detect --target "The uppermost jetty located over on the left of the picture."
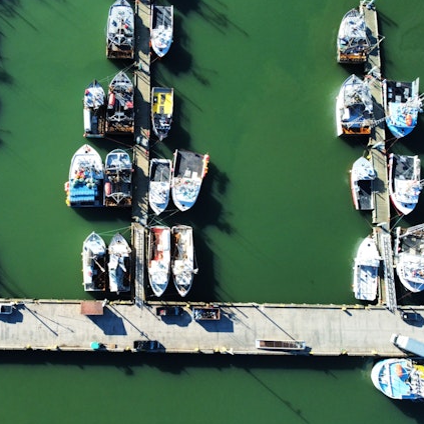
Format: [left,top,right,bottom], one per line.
[135,0,151,61]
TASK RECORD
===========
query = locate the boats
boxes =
[332,71,395,138]
[106,68,136,138]
[171,225,198,300]
[348,156,386,211]
[149,3,176,57]
[379,78,424,138]
[83,78,106,139]
[369,356,424,403]
[108,233,134,295]
[149,87,174,141]
[147,158,172,216]
[104,148,133,208]
[169,149,208,213]
[349,237,383,301]
[385,154,424,216]
[334,3,385,67]
[67,142,104,208]
[147,225,171,299]
[83,231,106,291]
[390,225,424,294]
[106,0,136,62]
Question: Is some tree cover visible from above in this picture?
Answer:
No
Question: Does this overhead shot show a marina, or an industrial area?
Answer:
marina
